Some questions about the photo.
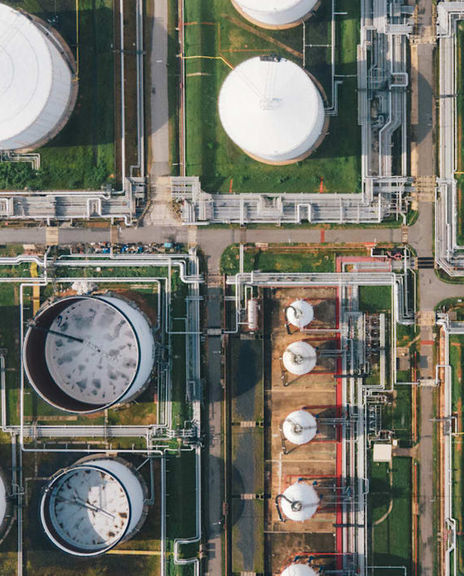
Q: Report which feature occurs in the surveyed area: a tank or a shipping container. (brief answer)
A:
tank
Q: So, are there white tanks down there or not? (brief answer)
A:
Yes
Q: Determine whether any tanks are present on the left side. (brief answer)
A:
Yes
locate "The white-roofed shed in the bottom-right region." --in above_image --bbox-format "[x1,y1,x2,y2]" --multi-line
[372,445,391,463]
